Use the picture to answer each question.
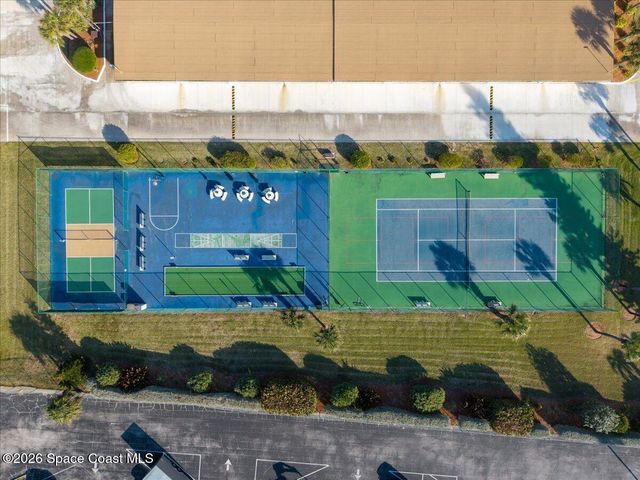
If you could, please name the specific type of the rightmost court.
tennis court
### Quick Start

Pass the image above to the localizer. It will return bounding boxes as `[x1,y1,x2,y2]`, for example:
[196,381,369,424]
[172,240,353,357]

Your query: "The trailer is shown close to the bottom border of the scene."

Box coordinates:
[144,456,191,480]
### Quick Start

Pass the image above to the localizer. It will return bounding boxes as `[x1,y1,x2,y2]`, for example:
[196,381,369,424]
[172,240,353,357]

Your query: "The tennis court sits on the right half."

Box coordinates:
[329,171,605,309]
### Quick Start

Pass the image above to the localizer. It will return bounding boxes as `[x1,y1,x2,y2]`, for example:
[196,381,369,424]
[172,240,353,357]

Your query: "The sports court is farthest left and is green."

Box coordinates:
[66,188,114,292]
